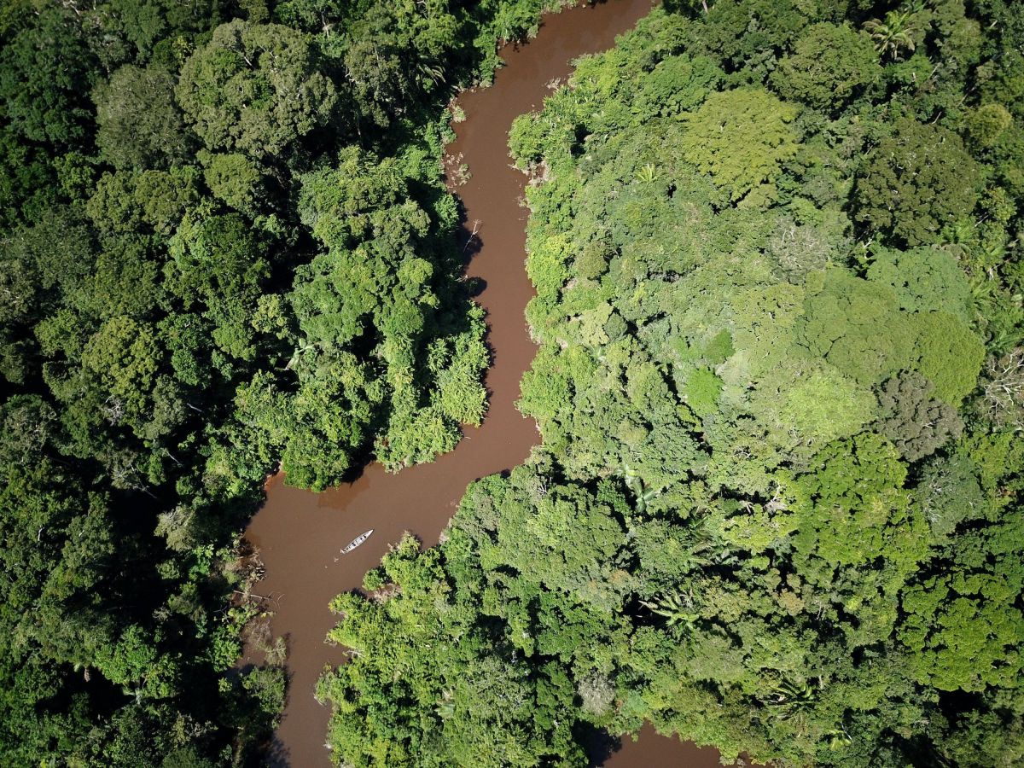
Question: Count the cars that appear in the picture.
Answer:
0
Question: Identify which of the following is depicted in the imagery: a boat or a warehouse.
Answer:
boat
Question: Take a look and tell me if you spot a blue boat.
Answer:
No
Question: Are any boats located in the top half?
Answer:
No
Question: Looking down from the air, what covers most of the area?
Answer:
trees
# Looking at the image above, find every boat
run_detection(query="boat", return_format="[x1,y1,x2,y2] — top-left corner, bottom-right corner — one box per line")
[338,531,372,555]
